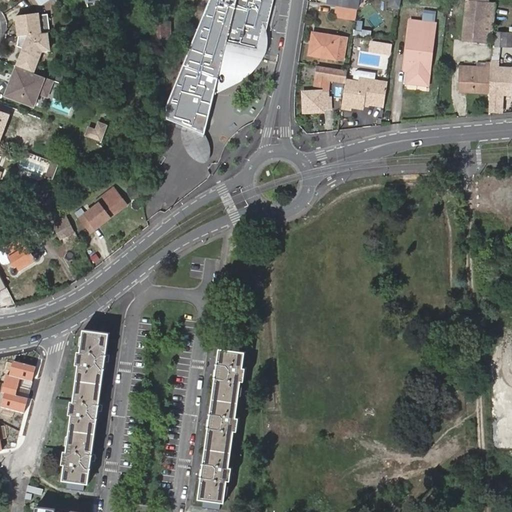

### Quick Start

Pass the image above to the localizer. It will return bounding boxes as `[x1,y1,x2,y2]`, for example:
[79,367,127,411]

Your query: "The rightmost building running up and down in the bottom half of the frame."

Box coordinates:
[196,348,246,504]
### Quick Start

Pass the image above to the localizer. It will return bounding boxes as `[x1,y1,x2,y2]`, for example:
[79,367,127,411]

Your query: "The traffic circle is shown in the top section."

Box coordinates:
[240,152,314,221]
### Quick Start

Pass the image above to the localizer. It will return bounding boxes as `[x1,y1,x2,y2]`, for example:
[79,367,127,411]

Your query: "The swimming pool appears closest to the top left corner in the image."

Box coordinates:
[50,99,72,116]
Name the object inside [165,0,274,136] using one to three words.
building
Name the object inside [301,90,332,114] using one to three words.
house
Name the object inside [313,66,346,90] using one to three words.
house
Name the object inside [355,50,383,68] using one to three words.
swimming pool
